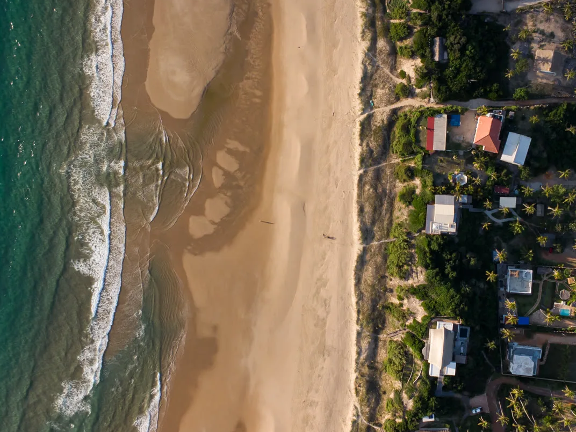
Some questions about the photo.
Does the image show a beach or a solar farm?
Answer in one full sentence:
This image shows a beach.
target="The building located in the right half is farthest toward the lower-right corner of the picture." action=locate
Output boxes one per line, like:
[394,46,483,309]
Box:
[507,340,542,376]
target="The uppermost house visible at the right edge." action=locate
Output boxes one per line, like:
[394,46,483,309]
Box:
[534,49,566,78]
